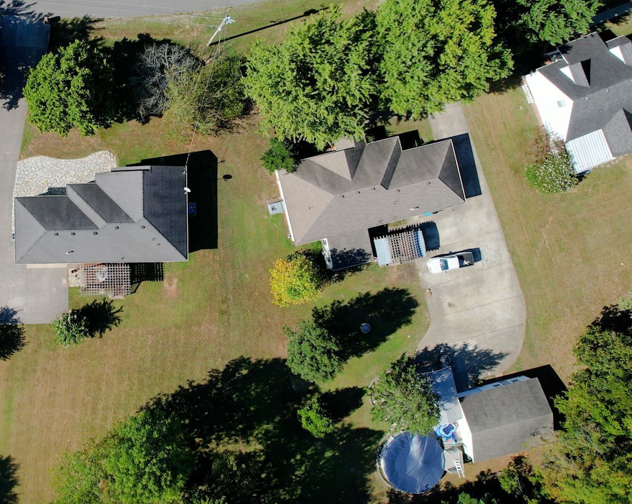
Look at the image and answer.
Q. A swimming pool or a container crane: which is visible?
swimming pool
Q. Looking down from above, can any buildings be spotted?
Yes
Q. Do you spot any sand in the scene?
No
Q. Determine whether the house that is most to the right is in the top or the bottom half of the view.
top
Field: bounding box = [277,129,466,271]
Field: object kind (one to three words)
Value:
house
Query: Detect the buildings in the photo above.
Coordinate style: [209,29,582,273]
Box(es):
[277,129,466,271]
[521,20,632,173]
[14,166,190,264]
[456,374,554,464]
